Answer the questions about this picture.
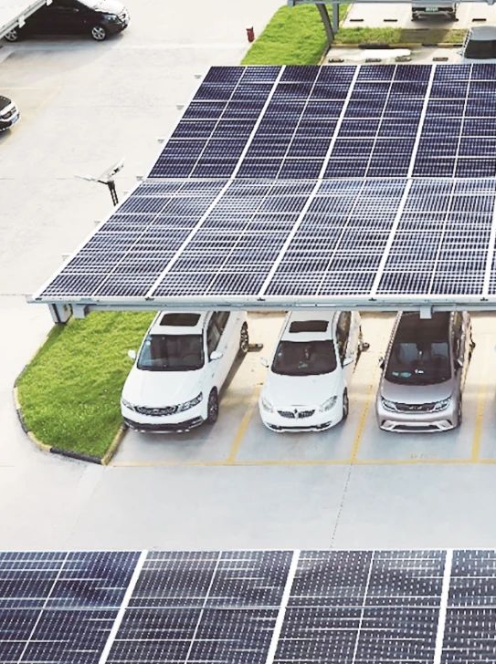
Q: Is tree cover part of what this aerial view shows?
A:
No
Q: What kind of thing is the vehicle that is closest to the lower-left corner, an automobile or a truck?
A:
automobile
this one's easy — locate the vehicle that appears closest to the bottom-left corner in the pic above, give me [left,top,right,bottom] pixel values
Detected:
[117,313,247,435]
